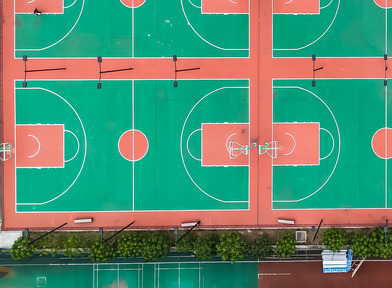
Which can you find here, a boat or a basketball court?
basketball court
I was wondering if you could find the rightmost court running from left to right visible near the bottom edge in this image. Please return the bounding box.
[155,265,204,288]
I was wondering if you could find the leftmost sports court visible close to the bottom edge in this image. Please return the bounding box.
[94,265,143,288]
